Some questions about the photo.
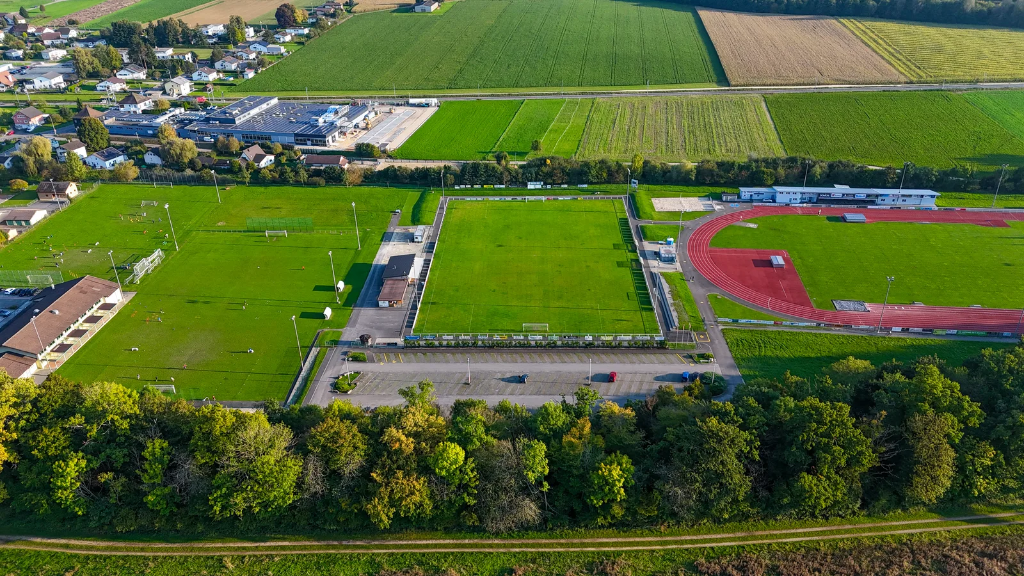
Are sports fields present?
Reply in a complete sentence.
Yes, there's a sports field here.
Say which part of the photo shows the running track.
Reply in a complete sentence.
Look in the right portion of the view to spot the running track.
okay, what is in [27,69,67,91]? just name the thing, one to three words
house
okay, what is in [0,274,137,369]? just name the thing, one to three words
building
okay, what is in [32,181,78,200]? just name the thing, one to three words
house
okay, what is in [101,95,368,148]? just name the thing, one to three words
building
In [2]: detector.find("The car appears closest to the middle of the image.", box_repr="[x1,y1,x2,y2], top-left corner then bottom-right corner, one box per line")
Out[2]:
[518,372,530,384]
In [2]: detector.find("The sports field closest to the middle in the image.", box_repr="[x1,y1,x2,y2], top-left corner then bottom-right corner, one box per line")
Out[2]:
[405,197,663,337]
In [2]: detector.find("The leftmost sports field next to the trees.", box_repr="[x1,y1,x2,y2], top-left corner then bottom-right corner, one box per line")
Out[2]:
[0,185,422,404]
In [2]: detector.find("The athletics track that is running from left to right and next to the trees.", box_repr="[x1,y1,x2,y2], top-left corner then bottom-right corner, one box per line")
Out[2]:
[686,205,1024,329]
